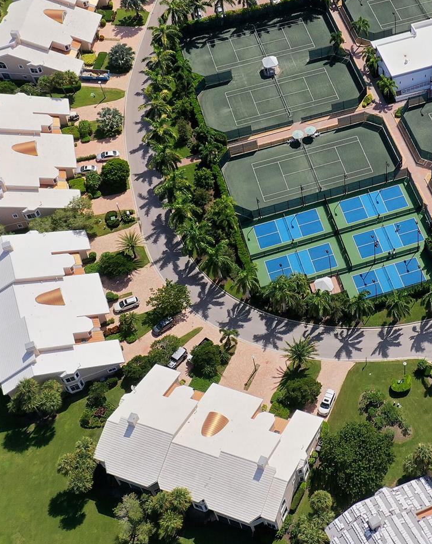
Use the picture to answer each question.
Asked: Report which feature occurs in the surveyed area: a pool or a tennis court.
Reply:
tennis court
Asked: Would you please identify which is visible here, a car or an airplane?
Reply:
car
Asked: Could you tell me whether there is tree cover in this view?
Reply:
Yes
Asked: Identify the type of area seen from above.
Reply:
residential area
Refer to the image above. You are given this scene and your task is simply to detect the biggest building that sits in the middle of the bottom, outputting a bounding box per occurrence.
[94,364,323,540]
